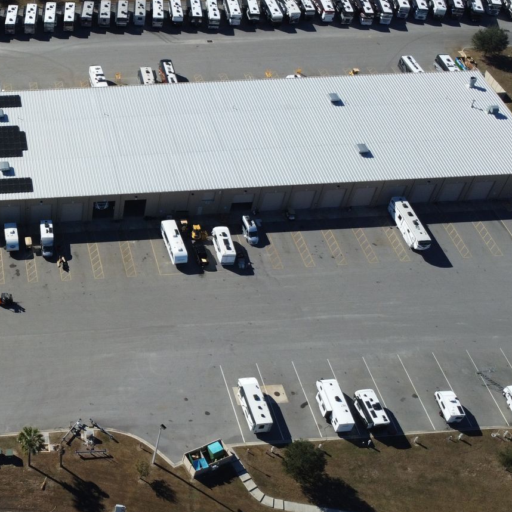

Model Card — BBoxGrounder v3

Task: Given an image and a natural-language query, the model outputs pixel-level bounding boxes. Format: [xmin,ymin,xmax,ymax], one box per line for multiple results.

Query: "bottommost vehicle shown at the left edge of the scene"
[0,291,19,305]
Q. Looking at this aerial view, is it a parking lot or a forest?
parking lot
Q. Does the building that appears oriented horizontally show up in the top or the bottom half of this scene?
top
